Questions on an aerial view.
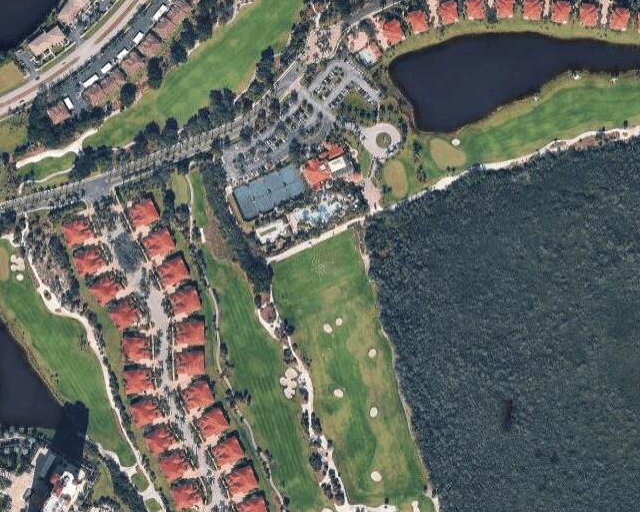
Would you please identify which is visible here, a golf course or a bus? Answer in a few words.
golf course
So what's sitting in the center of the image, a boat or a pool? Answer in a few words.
pool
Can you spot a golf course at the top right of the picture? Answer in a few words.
Yes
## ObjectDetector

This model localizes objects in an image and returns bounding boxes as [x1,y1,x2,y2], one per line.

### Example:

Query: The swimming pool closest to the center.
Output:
[293,192,359,227]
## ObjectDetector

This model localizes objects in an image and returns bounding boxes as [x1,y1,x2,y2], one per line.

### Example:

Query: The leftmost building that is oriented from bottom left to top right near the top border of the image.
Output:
[30,25,64,57]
